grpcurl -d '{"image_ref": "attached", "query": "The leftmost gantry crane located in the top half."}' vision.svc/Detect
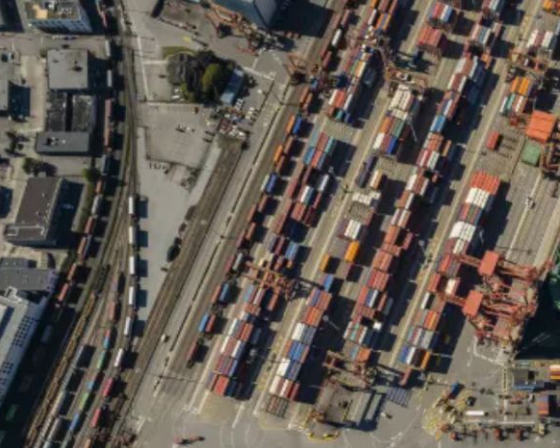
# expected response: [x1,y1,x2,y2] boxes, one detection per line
[282,55,338,96]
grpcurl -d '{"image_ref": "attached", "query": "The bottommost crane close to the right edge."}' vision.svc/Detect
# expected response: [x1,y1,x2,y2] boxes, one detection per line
[424,281,536,347]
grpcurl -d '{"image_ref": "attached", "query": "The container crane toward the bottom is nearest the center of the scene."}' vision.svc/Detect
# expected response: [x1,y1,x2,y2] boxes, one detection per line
[244,259,302,297]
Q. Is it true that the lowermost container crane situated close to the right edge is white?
No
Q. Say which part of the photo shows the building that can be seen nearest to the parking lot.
top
